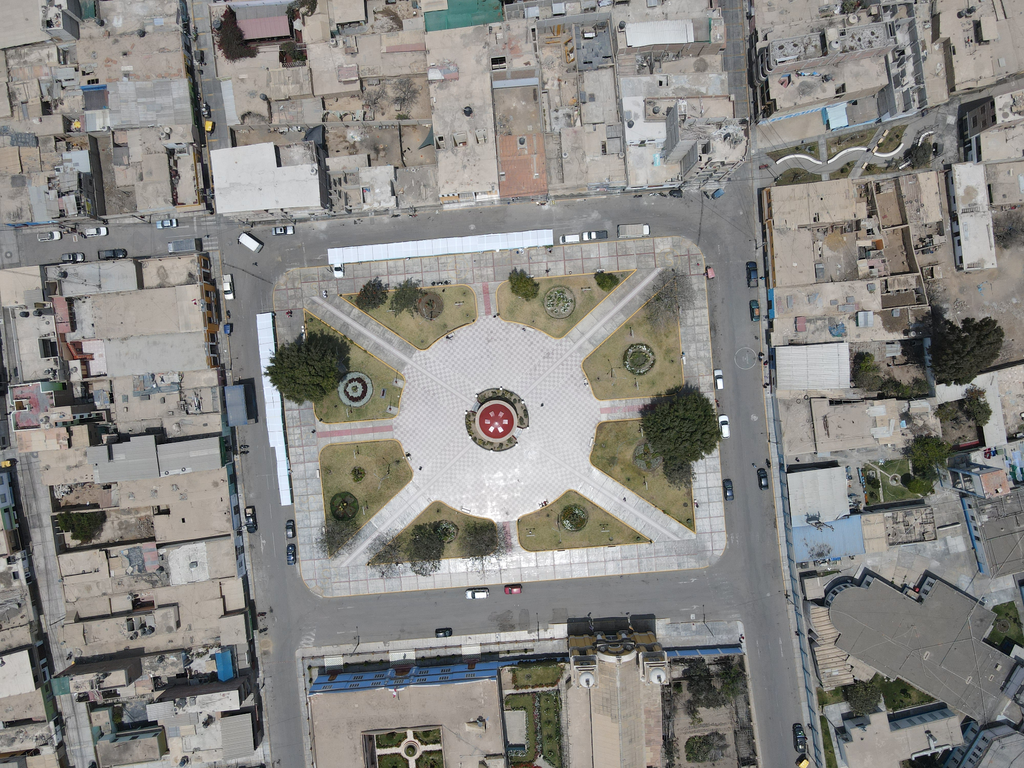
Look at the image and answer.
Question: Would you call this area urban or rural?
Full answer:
From above, the setting appears urban.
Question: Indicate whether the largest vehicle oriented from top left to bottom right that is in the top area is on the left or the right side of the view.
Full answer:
The largest vehicle oriented from top left to bottom right that is in the top area sits on the left side.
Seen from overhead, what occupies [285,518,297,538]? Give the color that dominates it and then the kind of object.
gray vehicle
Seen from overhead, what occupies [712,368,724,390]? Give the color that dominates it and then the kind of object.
white vehicle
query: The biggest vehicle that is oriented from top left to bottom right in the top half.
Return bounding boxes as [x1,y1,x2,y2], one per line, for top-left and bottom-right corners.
[236,230,265,253]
